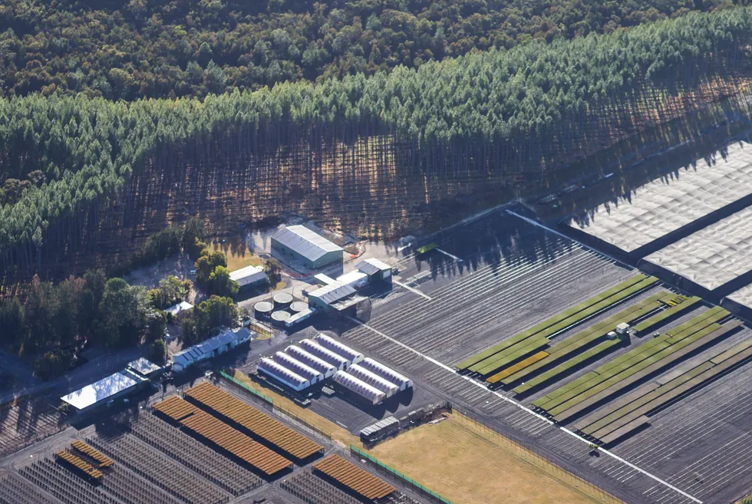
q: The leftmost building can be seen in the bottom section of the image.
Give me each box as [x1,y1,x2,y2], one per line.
[60,372,137,418]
